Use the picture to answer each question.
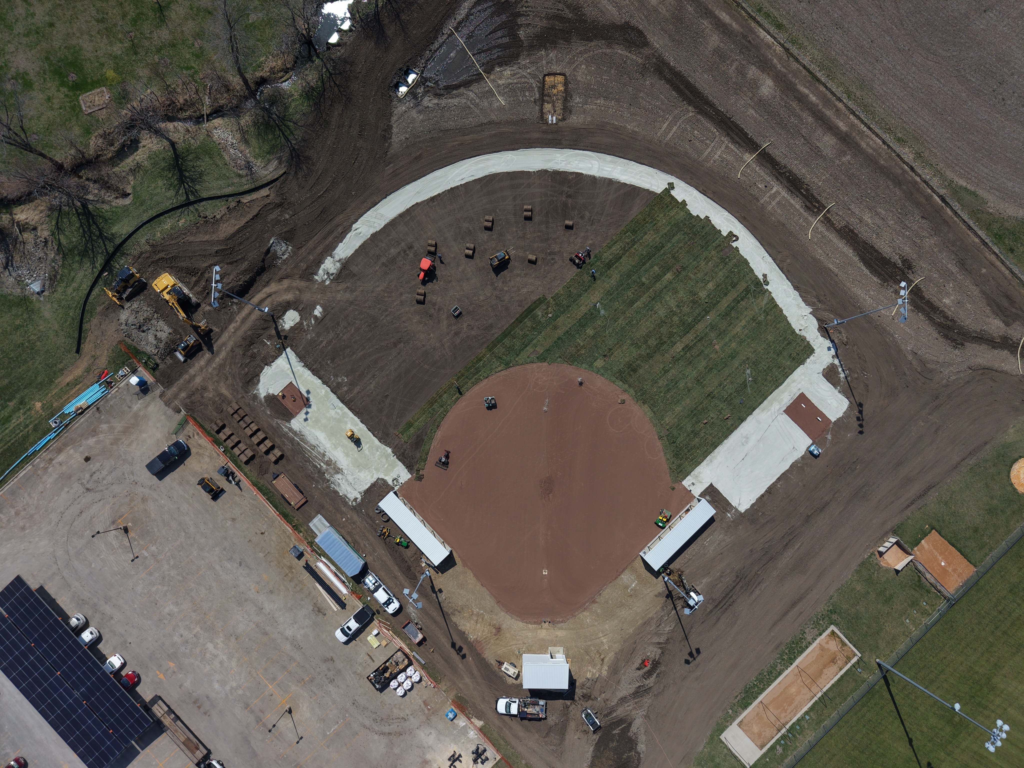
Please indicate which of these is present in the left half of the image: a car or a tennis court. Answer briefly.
car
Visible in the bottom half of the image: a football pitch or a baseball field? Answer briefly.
baseball field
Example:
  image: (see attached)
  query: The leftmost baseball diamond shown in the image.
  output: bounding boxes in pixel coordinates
[325,148,849,625]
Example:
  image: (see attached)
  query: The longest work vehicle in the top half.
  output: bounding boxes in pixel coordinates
[154,275,210,334]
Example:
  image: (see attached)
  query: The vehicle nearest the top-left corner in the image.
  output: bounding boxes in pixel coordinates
[105,267,146,306]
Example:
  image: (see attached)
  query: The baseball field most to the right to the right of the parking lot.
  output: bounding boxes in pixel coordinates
[780,522,1024,768]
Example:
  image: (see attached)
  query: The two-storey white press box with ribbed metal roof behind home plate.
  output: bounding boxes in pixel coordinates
[522,640,571,696]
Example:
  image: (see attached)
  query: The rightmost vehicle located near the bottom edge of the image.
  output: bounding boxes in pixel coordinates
[577,700,602,734]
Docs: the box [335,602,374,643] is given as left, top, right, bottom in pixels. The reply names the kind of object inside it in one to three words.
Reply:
truck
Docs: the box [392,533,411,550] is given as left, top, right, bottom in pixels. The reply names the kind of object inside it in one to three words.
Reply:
work vehicle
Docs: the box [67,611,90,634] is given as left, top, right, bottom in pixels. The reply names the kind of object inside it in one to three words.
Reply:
car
